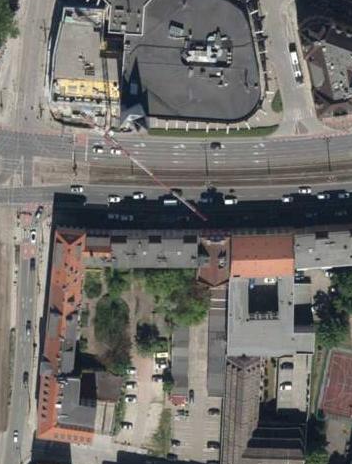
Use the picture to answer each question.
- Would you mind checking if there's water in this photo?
No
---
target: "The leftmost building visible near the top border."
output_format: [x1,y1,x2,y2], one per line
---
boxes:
[51,1,122,102]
